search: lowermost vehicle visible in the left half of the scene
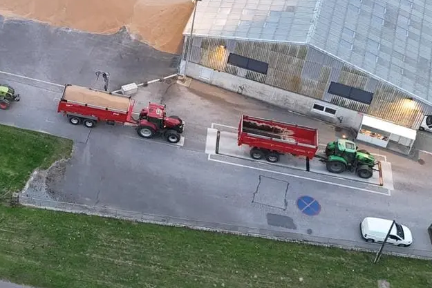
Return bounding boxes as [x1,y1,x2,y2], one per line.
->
[136,106,186,143]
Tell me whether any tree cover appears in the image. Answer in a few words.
No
